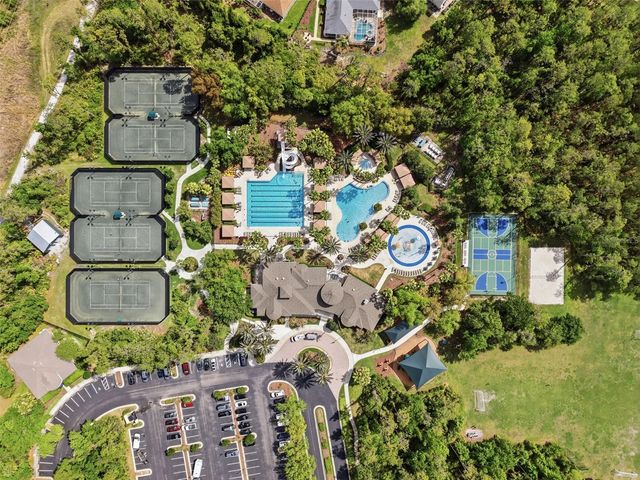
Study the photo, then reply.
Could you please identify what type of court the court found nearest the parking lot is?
tennis court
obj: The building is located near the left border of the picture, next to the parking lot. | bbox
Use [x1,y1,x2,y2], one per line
[8,329,79,399]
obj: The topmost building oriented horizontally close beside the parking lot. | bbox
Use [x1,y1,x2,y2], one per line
[251,262,391,331]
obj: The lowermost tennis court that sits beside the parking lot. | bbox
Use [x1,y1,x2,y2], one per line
[70,269,166,322]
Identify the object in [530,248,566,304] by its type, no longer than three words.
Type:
sports court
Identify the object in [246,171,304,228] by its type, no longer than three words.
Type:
swimming pool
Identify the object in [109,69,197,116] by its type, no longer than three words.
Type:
tennis court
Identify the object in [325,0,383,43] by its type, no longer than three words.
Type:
house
